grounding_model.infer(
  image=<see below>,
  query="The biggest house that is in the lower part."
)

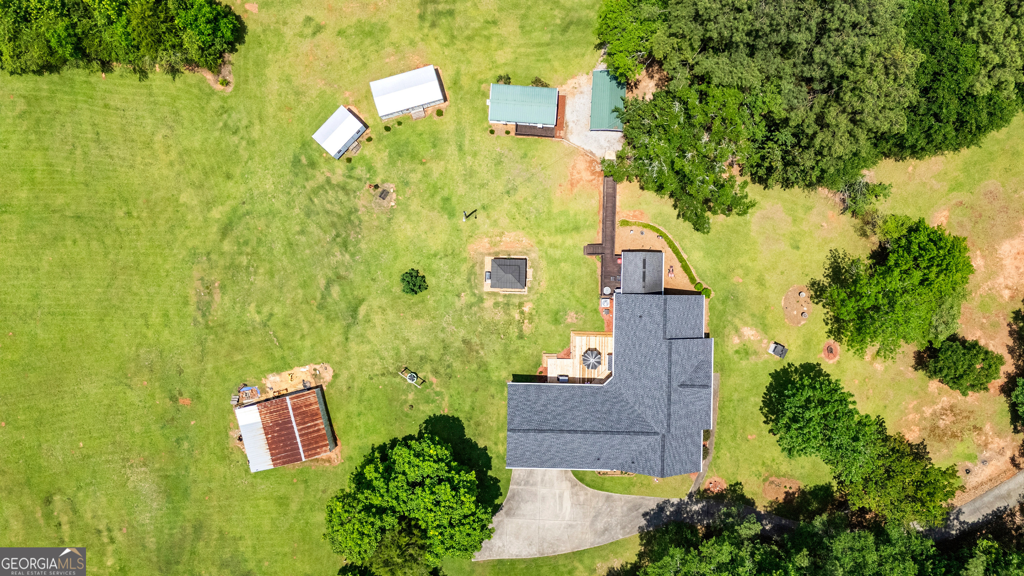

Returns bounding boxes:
[505,252,715,478]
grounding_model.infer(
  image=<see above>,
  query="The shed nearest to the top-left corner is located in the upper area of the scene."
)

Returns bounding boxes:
[312,105,366,159]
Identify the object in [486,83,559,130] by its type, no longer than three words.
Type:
house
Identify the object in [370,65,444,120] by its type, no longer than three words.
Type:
shed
